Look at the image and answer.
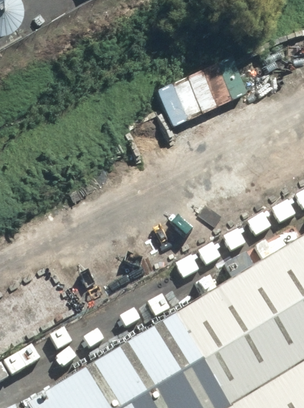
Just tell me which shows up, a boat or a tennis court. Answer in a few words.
boat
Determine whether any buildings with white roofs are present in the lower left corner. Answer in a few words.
Yes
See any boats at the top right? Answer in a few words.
No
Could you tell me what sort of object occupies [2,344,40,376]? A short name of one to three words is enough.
building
